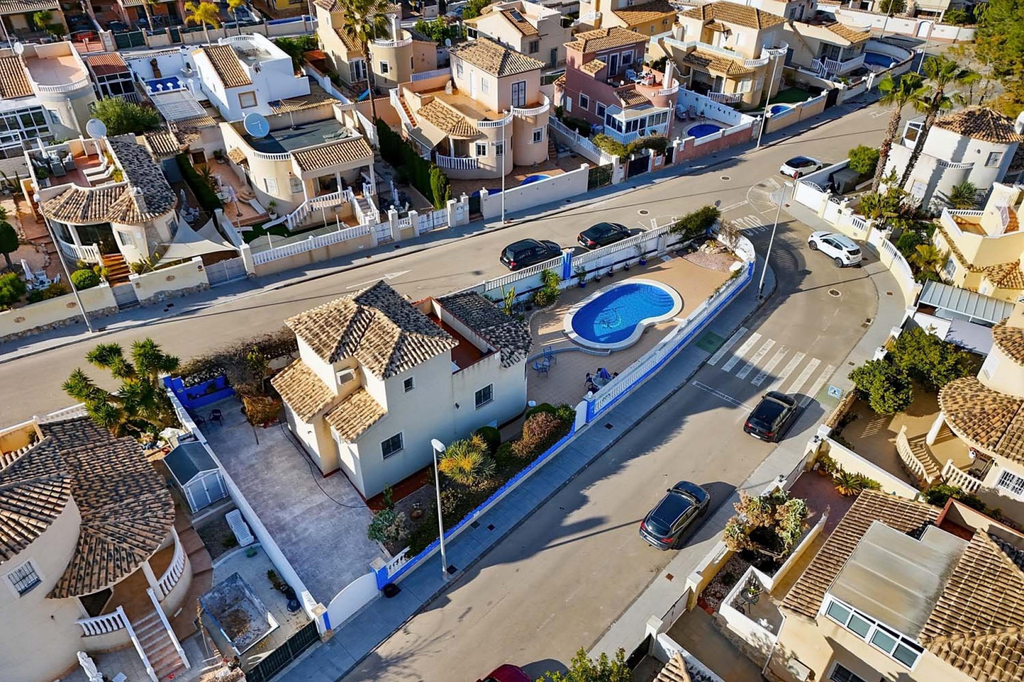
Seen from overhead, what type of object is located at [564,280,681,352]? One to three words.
swimming pool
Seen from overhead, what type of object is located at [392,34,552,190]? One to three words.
house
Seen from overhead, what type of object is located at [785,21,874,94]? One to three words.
house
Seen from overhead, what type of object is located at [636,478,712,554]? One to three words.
car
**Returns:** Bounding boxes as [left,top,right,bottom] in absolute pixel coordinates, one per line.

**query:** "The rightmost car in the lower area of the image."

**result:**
[742,388,802,447]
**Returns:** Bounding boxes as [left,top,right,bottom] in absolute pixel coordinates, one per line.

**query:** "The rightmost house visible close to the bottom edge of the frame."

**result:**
[766,489,1024,682]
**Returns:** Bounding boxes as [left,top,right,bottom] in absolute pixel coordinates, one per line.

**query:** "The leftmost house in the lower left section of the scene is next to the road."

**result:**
[0,417,193,682]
